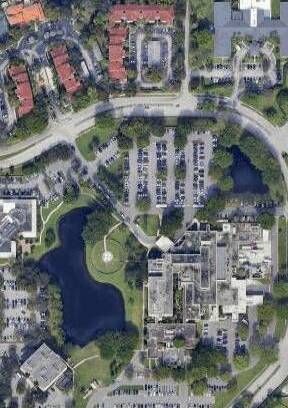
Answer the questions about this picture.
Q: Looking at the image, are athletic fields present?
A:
No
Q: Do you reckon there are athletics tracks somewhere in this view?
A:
No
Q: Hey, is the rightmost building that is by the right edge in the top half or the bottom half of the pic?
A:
top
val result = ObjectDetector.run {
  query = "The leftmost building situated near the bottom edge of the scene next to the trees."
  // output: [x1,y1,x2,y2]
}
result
[19,343,72,391]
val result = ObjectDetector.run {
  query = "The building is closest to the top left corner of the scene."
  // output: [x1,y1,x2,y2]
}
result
[6,3,43,24]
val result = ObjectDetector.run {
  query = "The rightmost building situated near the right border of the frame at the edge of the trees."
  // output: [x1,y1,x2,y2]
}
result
[213,0,288,57]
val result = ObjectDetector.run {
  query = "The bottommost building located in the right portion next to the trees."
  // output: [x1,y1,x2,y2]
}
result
[145,223,271,362]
